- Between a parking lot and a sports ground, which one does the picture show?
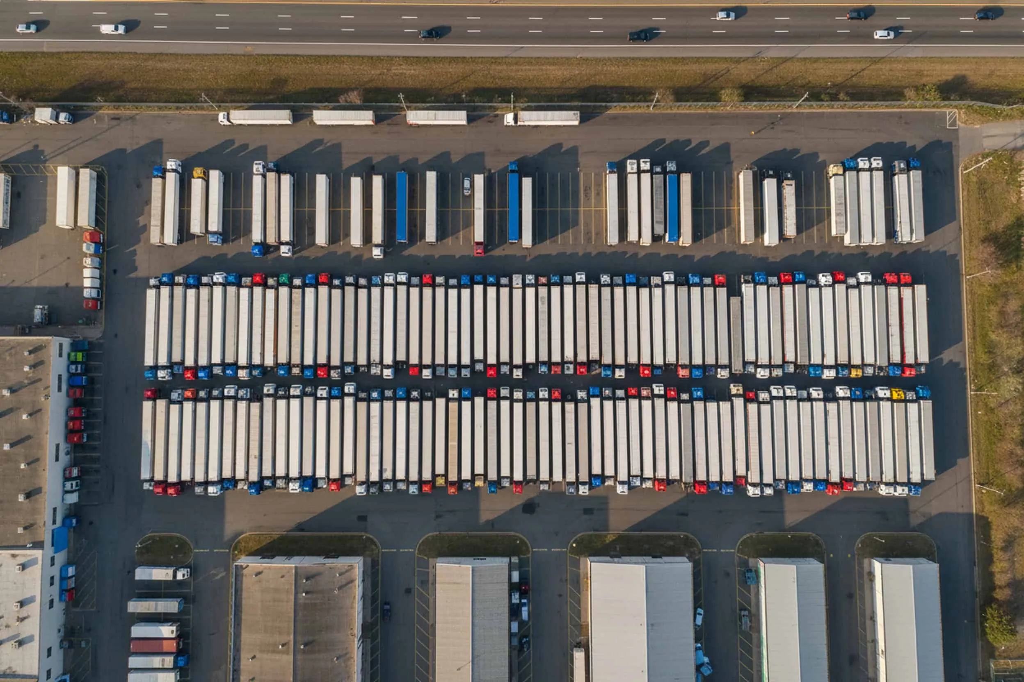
parking lot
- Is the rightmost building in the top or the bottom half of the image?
bottom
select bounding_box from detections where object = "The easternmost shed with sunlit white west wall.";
[872,561,944,682]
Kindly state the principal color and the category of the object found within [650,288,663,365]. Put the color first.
white vehicle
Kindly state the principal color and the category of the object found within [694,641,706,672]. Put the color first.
blue vehicle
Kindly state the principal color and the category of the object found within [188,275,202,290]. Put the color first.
blue vehicle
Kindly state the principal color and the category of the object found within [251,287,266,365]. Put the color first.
white trailer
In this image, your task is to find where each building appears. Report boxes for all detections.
[588,555,694,682]
[434,559,509,682]
[756,559,828,682]
[0,336,75,682]
[230,555,365,682]
[872,561,944,682]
